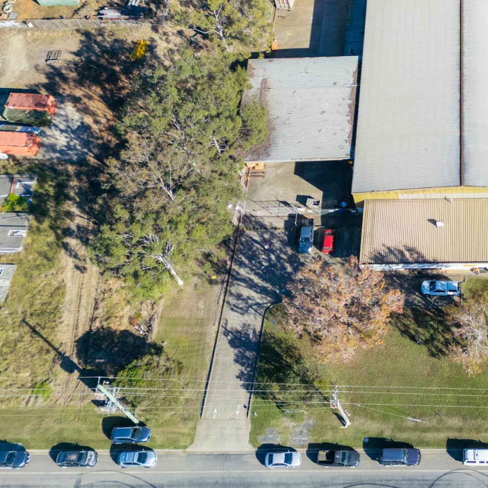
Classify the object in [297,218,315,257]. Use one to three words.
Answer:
vehicle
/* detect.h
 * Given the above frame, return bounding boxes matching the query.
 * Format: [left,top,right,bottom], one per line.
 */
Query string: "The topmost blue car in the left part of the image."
[109,424,153,444]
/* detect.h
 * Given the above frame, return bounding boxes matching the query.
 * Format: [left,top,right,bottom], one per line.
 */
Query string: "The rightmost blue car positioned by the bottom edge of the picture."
[378,445,422,468]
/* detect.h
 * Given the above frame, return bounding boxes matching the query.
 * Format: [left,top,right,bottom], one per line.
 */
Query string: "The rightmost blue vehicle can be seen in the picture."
[420,277,461,297]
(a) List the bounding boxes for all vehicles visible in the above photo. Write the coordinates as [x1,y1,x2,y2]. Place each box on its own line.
[420,277,461,297]
[109,424,153,444]
[0,445,32,468]
[316,446,360,468]
[117,447,160,468]
[463,448,488,468]
[297,218,315,257]
[55,448,101,469]
[321,229,339,258]
[378,445,422,468]
[265,448,303,469]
